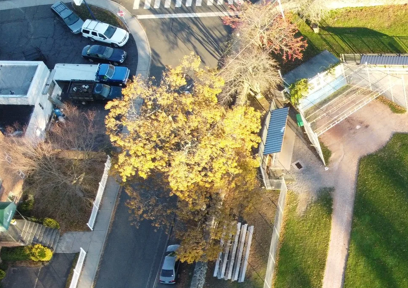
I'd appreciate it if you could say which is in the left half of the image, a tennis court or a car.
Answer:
car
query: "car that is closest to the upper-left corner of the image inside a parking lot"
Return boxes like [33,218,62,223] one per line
[49,0,82,33]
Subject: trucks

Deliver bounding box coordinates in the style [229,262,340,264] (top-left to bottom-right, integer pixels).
[56,79,124,104]
[52,59,134,87]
